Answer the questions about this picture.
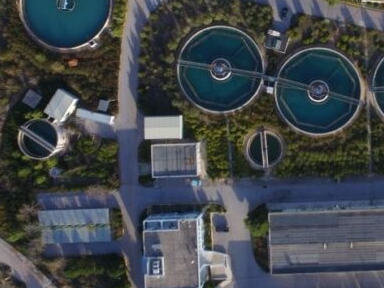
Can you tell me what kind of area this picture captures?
industrial area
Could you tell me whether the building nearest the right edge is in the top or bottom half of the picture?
bottom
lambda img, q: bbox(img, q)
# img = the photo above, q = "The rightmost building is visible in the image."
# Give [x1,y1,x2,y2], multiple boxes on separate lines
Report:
[268,204,384,275]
